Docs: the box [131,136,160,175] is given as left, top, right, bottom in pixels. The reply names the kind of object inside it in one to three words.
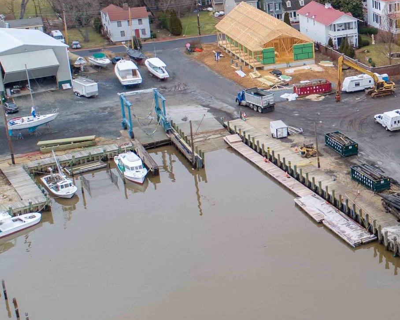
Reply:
pier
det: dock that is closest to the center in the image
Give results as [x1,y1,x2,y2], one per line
[166,119,206,171]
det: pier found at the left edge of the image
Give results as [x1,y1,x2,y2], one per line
[0,143,115,215]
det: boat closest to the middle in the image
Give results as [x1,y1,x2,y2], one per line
[109,140,143,180]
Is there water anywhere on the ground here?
Yes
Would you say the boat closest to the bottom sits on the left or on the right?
left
